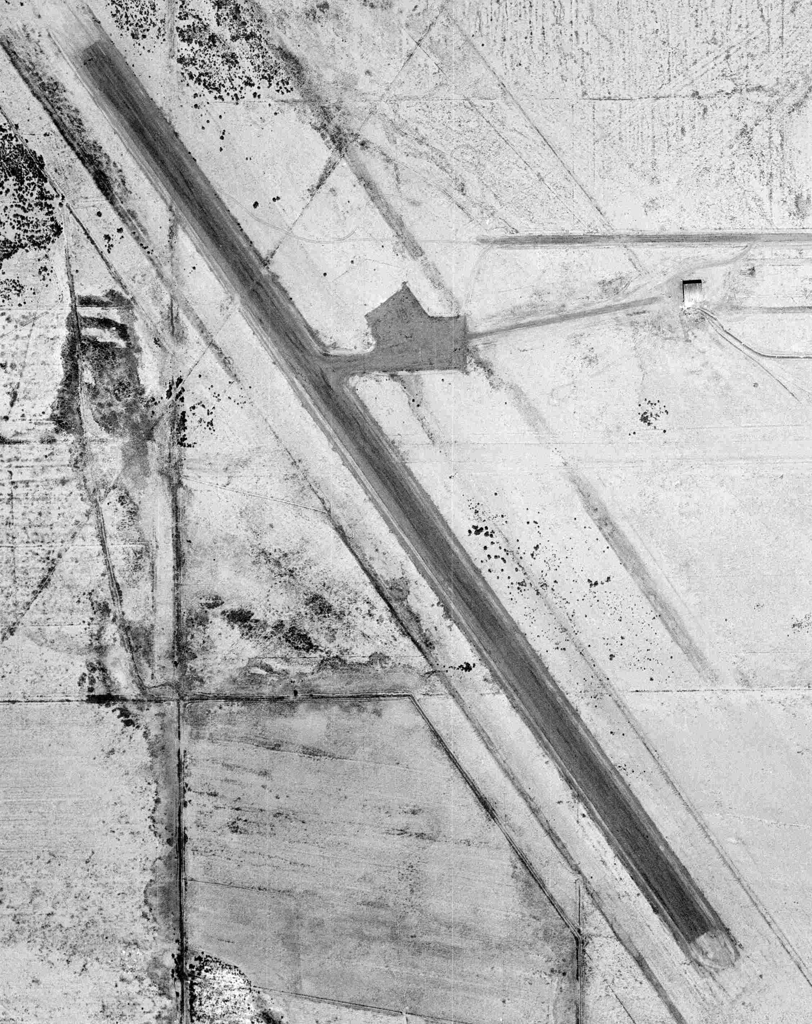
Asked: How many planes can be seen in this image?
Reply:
0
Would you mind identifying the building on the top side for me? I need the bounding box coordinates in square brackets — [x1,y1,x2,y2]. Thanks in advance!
[683,279,705,303]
